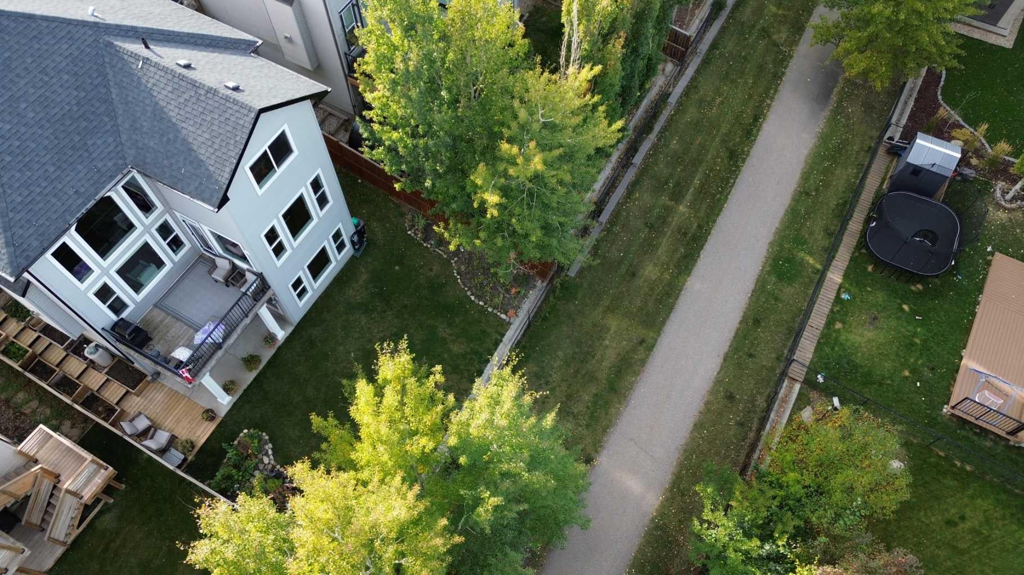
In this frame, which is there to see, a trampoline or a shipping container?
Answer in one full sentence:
There is a trampoline in the scene.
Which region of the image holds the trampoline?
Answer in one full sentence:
The trampoline is in the right part of the image.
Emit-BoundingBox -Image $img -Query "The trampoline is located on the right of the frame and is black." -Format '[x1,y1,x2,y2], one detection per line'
[854,170,988,292]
